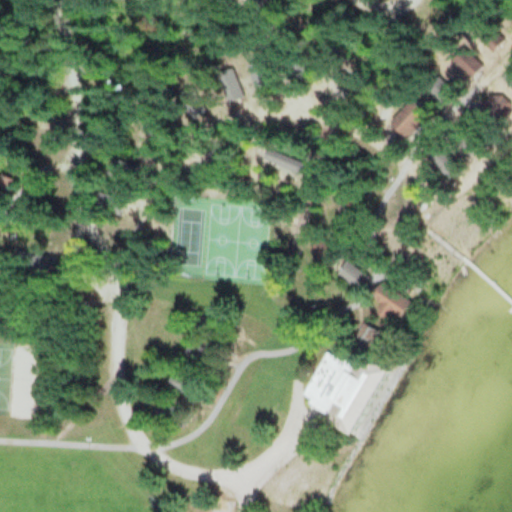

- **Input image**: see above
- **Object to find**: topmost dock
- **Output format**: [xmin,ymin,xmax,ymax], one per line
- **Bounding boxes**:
[428,229,512,304]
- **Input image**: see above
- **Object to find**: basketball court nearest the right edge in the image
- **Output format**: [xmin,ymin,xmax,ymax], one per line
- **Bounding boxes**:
[236,208,270,281]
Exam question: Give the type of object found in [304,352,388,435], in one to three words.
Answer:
building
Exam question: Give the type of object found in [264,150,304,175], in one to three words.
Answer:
building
